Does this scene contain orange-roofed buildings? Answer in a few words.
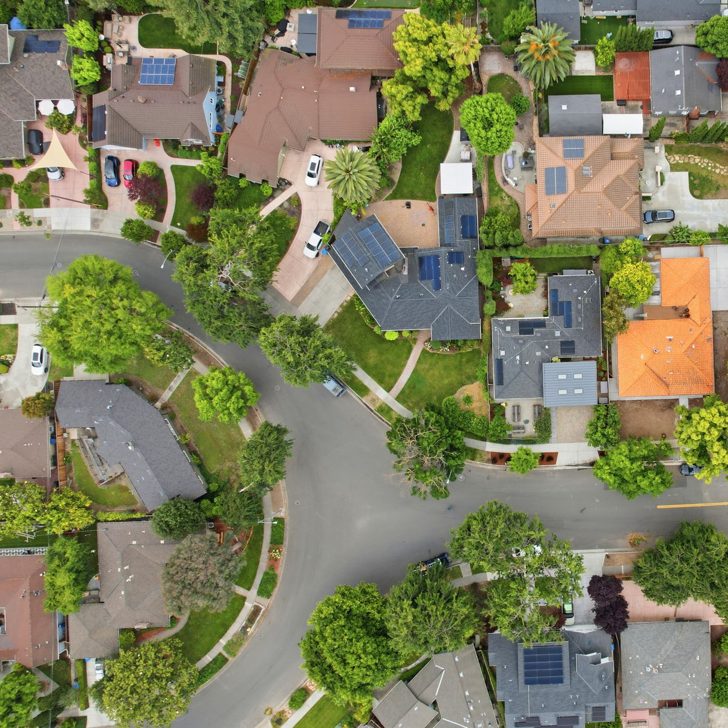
Yes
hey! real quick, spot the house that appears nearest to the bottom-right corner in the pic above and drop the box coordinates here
[621,617,712,728]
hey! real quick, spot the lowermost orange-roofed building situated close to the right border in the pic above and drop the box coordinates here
[616,257,715,398]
